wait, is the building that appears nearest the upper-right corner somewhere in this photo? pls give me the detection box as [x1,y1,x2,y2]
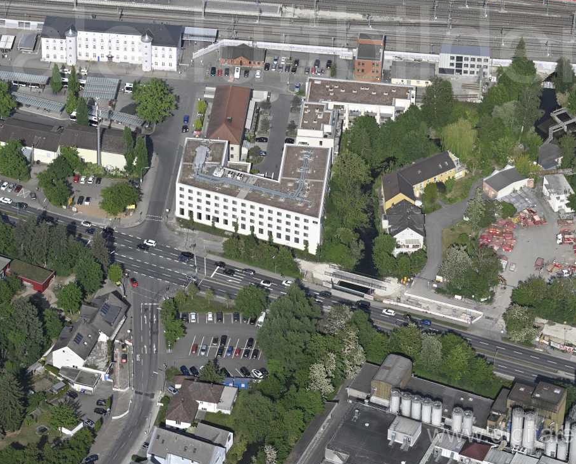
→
[438,44,493,75]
